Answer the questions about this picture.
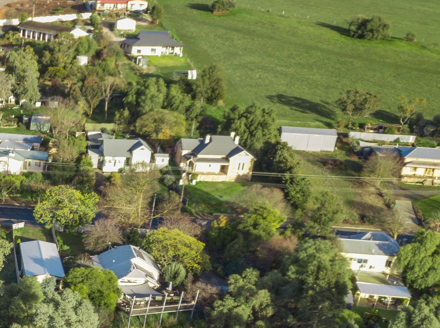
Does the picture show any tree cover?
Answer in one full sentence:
Yes, there's tree cover in this view.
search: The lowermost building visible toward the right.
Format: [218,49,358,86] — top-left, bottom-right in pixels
[327,213,411,320]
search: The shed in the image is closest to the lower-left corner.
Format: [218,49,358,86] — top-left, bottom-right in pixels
[20,232,65,304]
